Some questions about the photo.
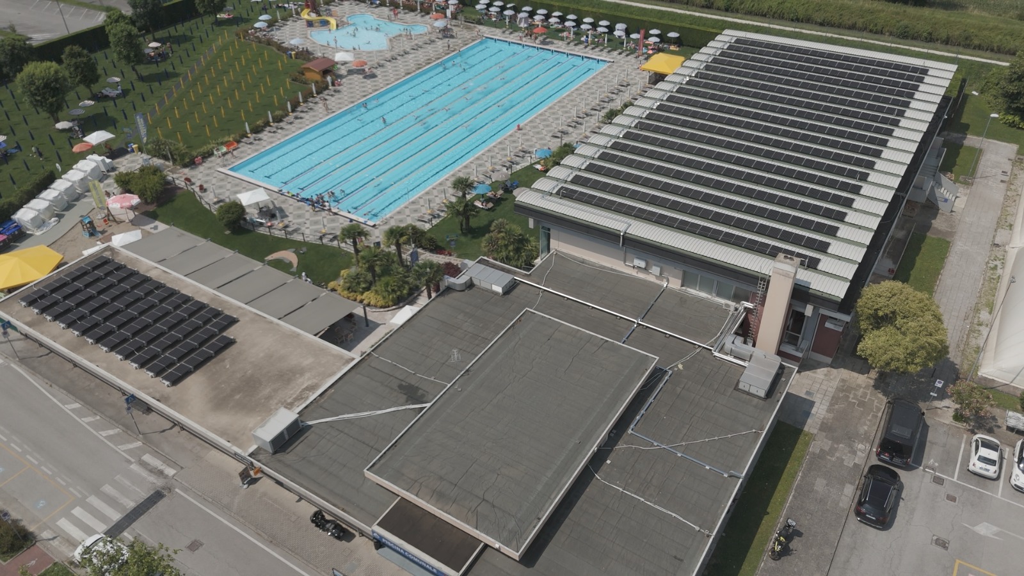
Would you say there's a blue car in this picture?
No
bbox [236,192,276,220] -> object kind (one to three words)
gazebo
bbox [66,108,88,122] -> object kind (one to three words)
umbrella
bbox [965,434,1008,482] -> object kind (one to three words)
car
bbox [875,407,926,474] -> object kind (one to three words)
van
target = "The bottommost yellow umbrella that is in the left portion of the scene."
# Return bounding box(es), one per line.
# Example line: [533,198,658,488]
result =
[0,242,58,289]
